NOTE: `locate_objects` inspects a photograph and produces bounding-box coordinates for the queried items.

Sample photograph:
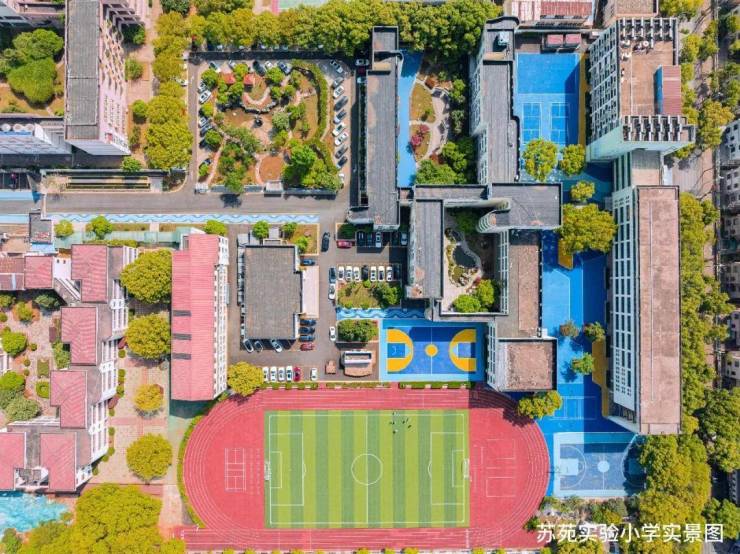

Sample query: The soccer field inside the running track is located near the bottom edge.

[265,410,469,527]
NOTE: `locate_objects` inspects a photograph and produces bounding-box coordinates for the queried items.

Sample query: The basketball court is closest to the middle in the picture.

[379,319,488,382]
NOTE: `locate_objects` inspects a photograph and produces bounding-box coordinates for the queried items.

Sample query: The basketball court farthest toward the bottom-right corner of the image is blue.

[553,433,652,497]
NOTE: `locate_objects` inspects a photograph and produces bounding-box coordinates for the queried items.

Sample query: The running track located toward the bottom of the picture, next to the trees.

[166,387,559,551]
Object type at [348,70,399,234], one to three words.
building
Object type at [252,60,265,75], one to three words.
vehicle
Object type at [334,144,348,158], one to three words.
vehicle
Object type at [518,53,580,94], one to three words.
sports court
